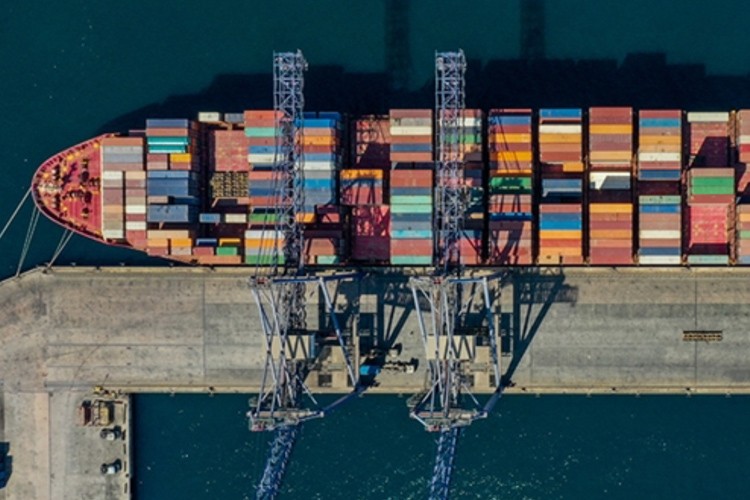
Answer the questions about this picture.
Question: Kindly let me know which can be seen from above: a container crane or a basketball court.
container crane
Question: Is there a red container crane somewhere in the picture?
No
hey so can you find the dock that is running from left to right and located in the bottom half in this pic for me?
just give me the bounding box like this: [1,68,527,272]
[0,265,750,500]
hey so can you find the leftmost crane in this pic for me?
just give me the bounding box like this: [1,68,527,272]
[246,47,385,500]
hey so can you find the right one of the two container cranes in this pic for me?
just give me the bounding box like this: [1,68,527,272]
[409,47,523,500]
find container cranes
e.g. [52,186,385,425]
[246,47,385,500]
[409,47,523,500]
